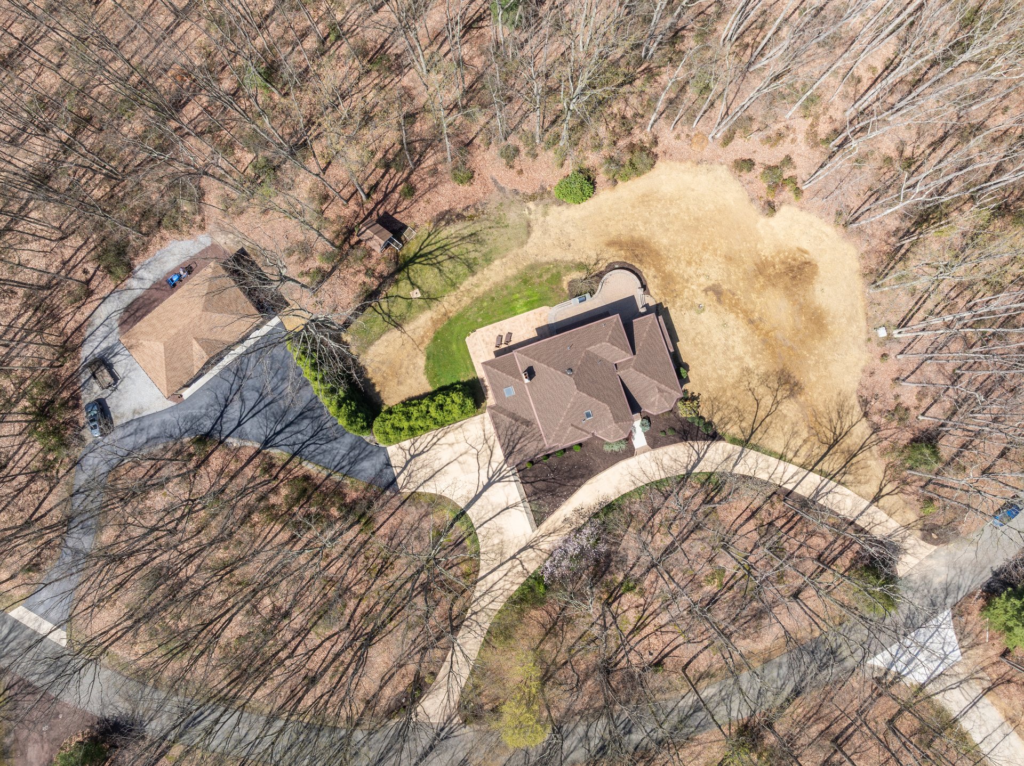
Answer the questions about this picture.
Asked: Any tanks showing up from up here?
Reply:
No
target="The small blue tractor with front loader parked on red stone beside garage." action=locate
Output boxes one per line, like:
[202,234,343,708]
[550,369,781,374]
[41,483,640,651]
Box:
[171,261,200,286]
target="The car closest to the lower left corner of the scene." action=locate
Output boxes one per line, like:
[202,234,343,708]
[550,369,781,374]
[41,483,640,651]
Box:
[84,401,110,440]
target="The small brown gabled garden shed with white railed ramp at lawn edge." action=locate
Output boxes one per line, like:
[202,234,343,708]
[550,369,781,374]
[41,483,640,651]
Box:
[358,219,404,256]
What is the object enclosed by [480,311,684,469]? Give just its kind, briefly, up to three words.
house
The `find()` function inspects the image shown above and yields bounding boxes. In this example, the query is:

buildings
[358,219,404,256]
[119,261,267,399]
[480,311,684,469]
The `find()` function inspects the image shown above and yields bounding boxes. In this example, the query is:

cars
[84,401,110,440]
[990,502,1024,531]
